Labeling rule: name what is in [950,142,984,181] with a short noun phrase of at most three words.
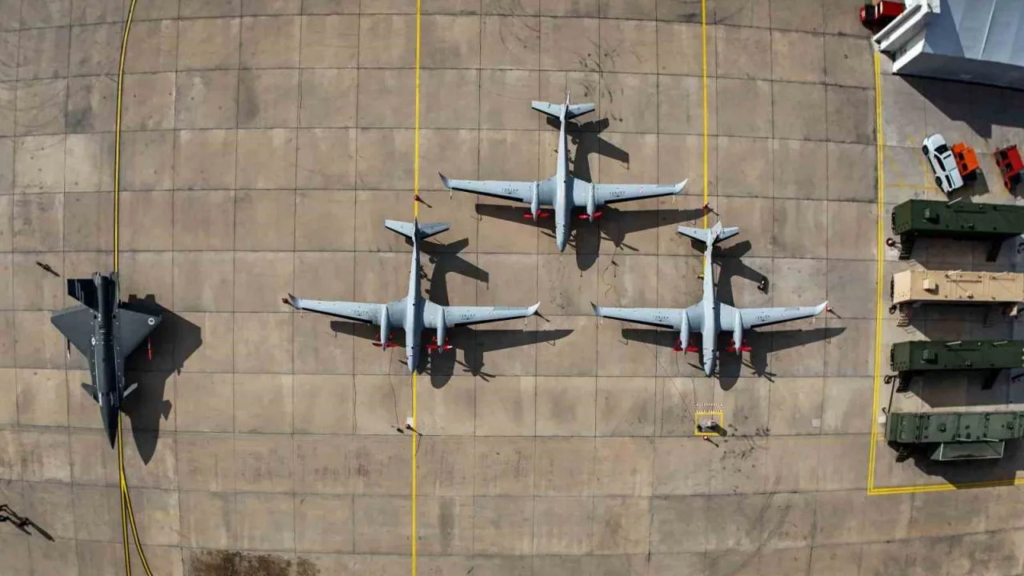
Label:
work vehicle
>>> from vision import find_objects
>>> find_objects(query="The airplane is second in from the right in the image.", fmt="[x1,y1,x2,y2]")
[439,87,691,251]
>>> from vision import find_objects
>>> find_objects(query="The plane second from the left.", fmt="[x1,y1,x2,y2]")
[289,214,540,371]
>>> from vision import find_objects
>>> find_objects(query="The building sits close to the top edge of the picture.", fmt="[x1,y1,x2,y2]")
[880,0,1024,91]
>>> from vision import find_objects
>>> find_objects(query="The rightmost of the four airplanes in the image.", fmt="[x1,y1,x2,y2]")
[593,217,833,375]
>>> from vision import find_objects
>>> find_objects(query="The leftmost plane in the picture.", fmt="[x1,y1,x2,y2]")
[50,269,161,449]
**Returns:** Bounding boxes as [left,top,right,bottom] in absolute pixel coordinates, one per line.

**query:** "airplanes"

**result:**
[593,217,833,375]
[289,214,540,371]
[439,87,691,251]
[50,269,161,449]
